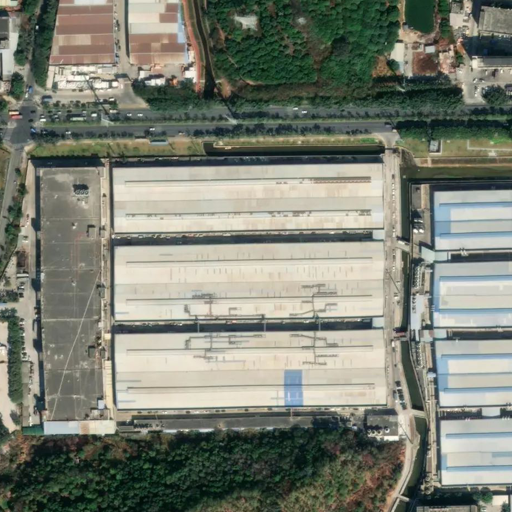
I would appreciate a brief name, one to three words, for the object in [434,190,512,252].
building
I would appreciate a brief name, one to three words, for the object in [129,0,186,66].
shed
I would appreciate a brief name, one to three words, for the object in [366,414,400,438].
house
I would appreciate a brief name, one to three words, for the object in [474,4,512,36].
building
